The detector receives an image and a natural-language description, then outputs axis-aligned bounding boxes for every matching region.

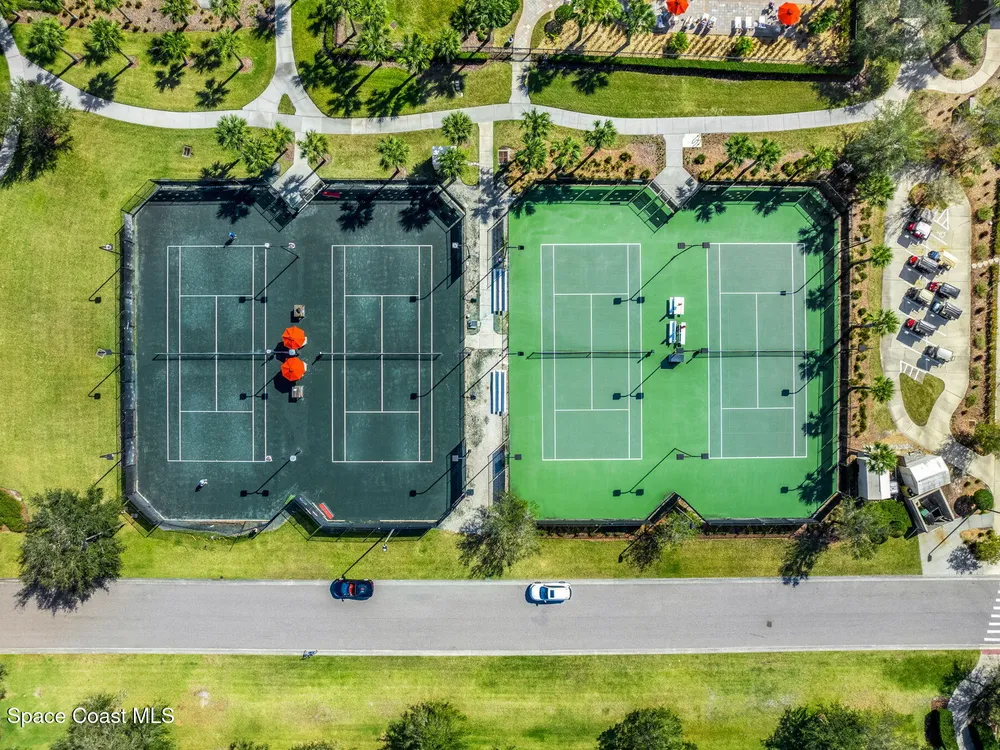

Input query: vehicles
[919,344,955,361]
[901,318,937,337]
[898,221,934,239]
[926,302,961,320]
[333,583,372,604]
[901,286,937,305]
[926,250,959,271]
[529,584,571,606]
[904,255,939,273]
[926,283,960,301]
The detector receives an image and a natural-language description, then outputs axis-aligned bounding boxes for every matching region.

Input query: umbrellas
[282,357,306,381]
[776,2,801,27]
[282,326,305,349]
[665,0,688,18]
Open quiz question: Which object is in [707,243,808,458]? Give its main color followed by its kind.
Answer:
green tennis court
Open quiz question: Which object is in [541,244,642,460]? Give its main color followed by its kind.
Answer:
green tennis court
